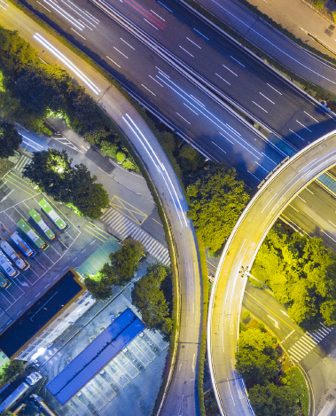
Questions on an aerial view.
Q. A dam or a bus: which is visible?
bus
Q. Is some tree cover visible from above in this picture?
Yes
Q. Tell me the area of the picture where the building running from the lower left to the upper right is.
bottom left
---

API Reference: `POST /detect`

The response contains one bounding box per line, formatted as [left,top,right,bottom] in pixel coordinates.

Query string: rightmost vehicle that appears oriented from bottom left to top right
[23,371,41,385]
